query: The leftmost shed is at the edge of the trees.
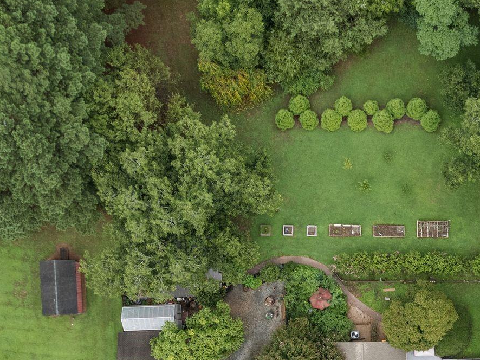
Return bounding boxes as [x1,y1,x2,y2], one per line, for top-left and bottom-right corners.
[39,248,83,316]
